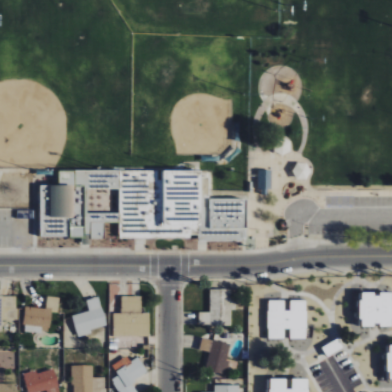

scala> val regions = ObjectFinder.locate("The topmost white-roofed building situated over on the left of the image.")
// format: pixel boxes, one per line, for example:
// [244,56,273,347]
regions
[38,170,247,241]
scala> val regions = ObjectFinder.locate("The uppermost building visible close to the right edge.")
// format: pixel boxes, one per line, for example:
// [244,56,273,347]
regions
[356,292,392,327]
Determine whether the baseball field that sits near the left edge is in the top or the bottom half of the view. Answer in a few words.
top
